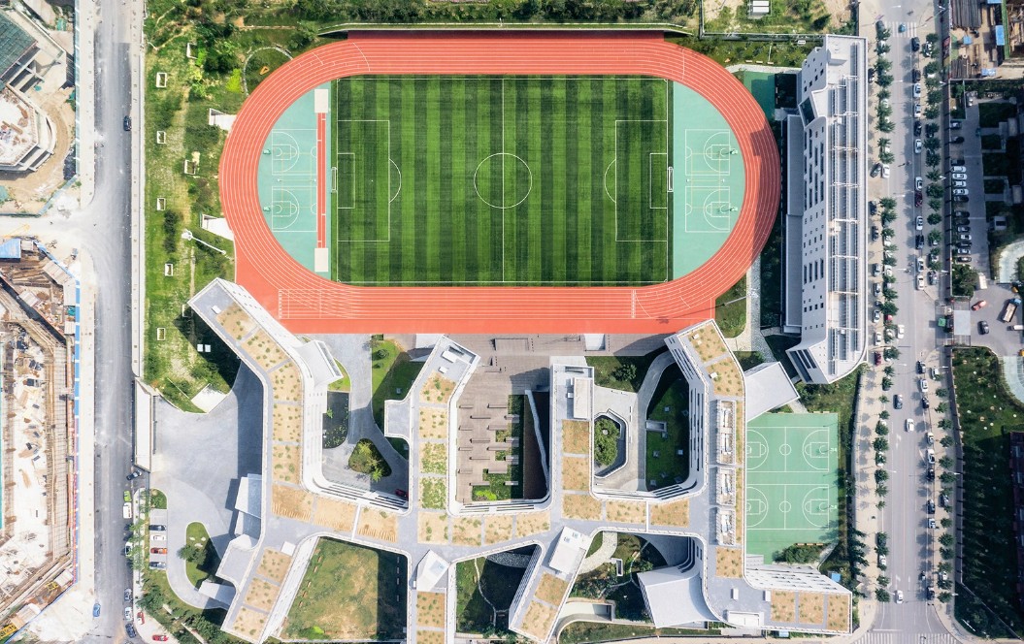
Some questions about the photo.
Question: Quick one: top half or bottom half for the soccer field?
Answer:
top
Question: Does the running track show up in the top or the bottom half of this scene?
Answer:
top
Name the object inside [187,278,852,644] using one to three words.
building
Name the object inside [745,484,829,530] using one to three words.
basketball court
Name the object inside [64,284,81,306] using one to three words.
shed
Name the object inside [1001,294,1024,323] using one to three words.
truck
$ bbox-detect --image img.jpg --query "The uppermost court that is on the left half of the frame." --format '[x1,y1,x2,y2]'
[272,129,317,175]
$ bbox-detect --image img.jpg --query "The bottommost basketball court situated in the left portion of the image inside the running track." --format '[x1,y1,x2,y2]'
[272,186,317,231]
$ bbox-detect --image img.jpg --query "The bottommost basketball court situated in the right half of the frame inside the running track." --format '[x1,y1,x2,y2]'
[686,186,730,232]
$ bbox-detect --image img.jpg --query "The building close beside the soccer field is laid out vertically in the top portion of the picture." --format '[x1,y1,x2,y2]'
[771,34,869,384]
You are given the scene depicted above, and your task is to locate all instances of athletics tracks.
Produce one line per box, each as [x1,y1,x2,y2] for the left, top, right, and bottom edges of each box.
[220,31,780,333]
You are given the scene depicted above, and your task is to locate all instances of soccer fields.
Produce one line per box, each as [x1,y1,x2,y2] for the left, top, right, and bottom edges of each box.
[331,74,674,287]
